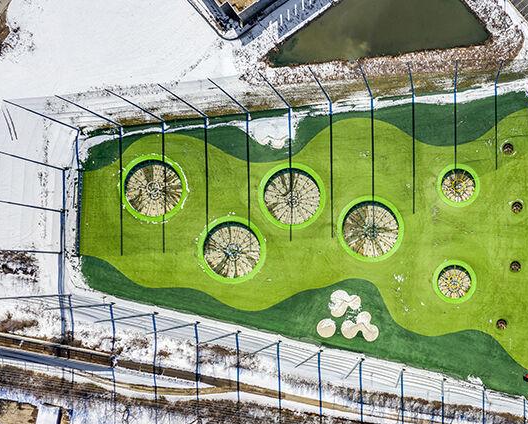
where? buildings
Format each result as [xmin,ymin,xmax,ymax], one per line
[213,0,278,26]
[37,403,66,424]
